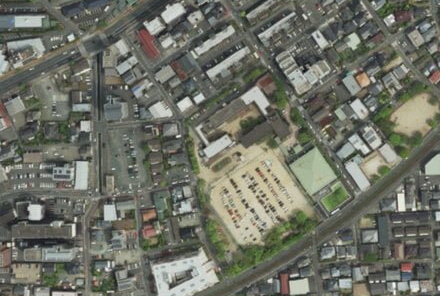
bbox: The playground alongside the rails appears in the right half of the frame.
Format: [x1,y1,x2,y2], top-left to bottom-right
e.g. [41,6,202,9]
[392,93,438,134]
